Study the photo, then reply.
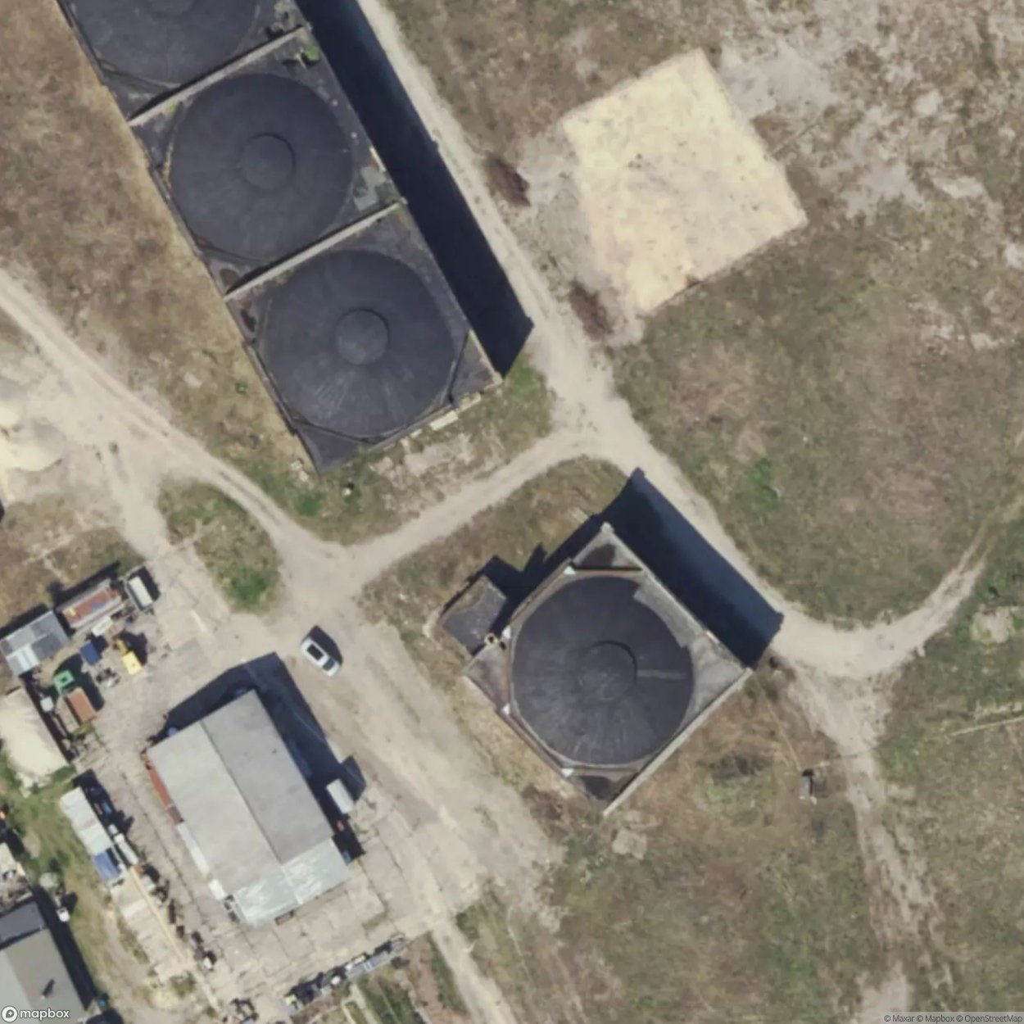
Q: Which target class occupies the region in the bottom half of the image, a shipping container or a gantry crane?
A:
shipping container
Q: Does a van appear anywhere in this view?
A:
Yes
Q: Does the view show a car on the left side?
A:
Yes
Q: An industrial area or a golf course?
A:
industrial area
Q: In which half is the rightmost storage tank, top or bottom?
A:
bottom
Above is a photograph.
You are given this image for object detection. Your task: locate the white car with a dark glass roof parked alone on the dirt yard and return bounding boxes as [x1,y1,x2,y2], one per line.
[301,638,339,674]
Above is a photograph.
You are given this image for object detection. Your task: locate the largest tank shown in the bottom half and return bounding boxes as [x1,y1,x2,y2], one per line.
[461,525,752,815]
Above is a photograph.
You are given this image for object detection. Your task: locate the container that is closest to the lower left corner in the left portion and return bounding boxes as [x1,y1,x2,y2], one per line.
[68,687,96,723]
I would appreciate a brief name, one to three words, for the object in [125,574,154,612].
van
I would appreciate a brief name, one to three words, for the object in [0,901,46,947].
building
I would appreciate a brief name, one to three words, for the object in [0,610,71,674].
shed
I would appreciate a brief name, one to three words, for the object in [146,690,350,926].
warehouse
